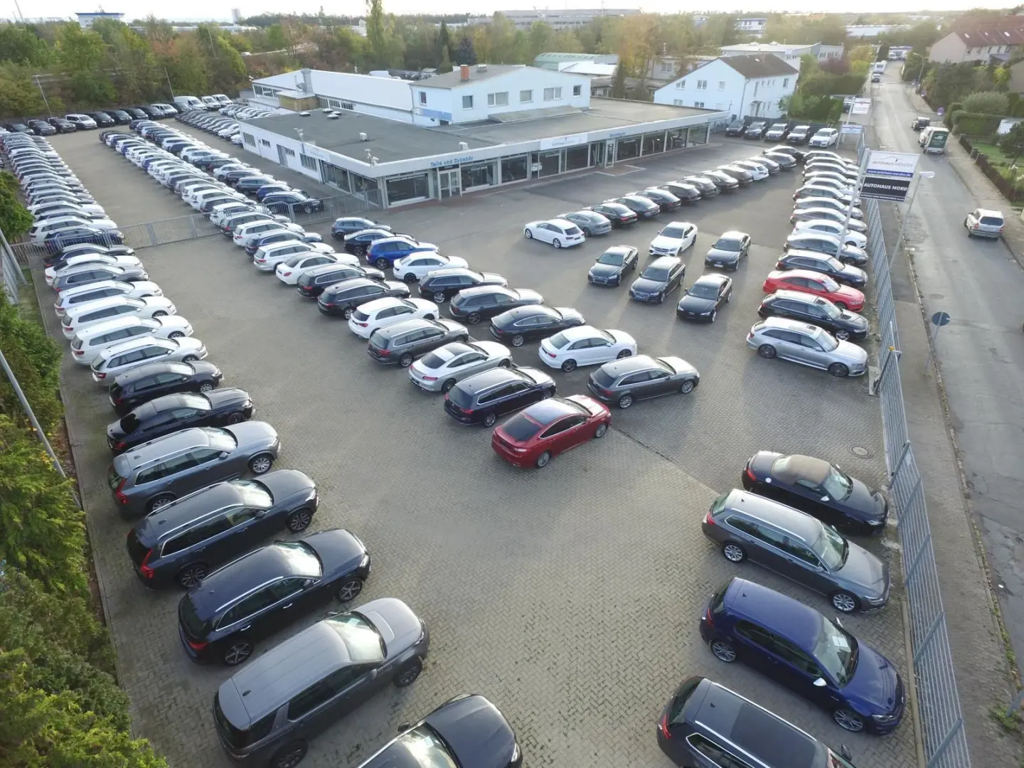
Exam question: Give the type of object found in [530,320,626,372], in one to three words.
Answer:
car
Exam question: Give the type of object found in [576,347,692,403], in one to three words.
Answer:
car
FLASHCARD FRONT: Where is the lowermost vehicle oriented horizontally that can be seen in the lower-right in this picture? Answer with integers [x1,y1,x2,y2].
[652,675,853,768]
